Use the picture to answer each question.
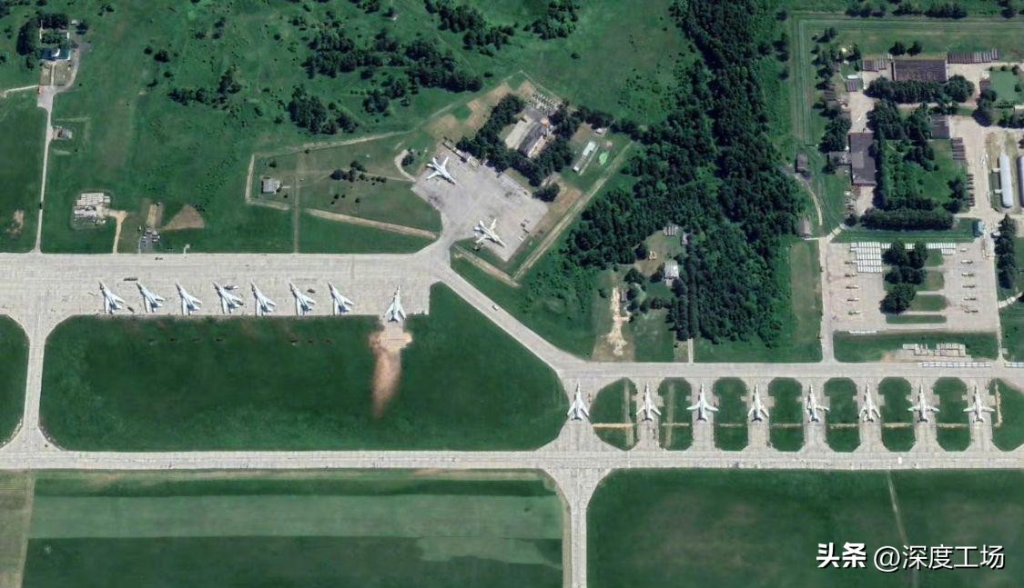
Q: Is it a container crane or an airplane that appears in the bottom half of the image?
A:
airplane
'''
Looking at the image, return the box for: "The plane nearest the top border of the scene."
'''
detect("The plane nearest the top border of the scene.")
[426,156,458,185]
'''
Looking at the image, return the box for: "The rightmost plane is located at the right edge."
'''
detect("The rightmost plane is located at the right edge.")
[963,386,994,423]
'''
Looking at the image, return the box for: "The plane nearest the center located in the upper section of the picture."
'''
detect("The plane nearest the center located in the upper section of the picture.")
[473,219,507,248]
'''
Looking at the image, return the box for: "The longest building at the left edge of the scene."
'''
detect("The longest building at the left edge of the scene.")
[40,47,70,59]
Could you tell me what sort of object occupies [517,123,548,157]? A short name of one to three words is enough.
hangar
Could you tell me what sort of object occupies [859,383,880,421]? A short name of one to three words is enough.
airplane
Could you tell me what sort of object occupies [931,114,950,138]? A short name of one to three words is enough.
building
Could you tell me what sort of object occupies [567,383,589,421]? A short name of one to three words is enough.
airplane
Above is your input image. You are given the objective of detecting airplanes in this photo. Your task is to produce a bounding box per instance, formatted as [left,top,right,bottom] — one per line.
[136,281,163,316]
[251,279,277,314]
[688,382,718,420]
[963,386,994,423]
[803,384,828,422]
[908,385,939,422]
[176,282,202,316]
[328,282,354,317]
[213,281,240,316]
[748,384,769,421]
[567,383,589,421]
[289,280,315,315]
[426,156,458,185]
[473,219,507,248]
[99,280,125,315]
[637,383,661,421]
[383,284,407,323]
[859,383,880,421]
